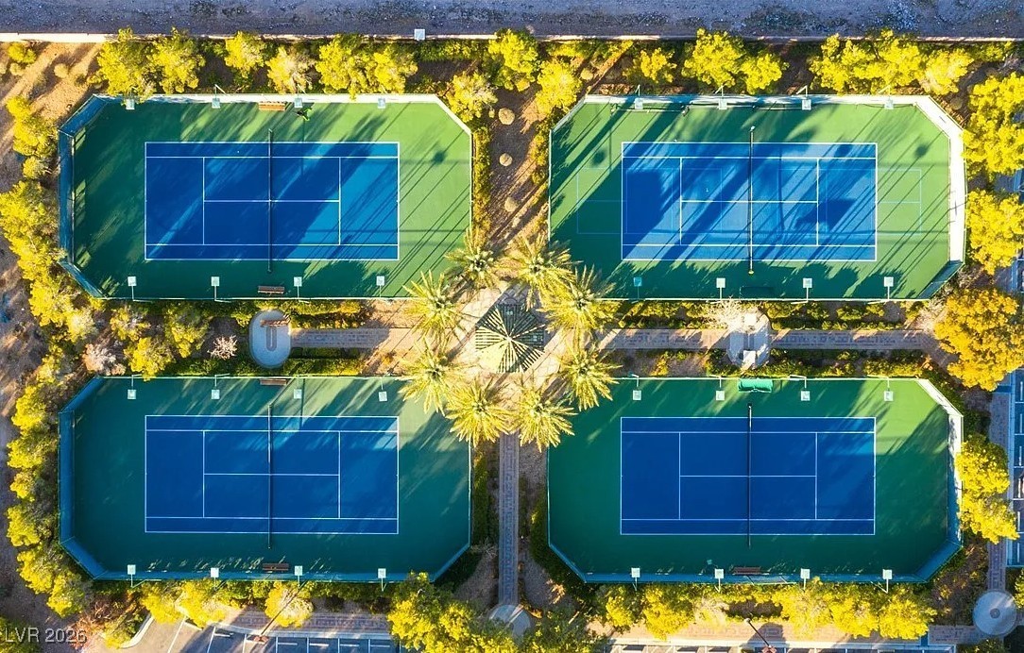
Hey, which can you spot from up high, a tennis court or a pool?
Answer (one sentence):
The image shows a tennis court.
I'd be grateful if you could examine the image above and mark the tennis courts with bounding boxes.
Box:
[551,103,948,299]
[549,377,947,573]
[75,102,470,297]
[75,376,471,574]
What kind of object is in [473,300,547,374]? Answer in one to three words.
gazebo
